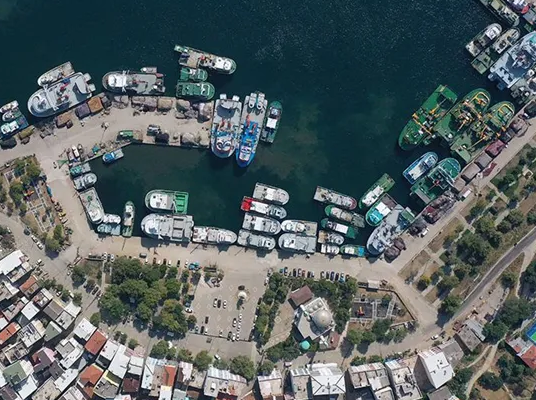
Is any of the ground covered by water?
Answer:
Yes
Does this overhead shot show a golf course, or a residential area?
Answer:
residential area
